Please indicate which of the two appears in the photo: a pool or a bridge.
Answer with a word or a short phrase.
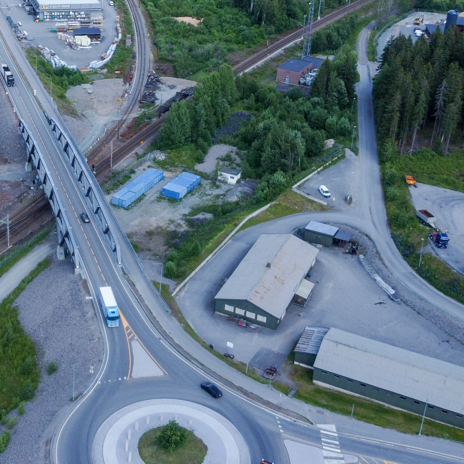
bridge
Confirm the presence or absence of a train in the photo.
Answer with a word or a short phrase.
No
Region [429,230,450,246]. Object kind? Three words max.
vehicle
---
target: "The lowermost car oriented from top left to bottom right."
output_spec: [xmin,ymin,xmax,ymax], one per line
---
[200,378,225,396]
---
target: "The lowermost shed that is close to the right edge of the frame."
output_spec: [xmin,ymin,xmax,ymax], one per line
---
[310,326,464,422]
